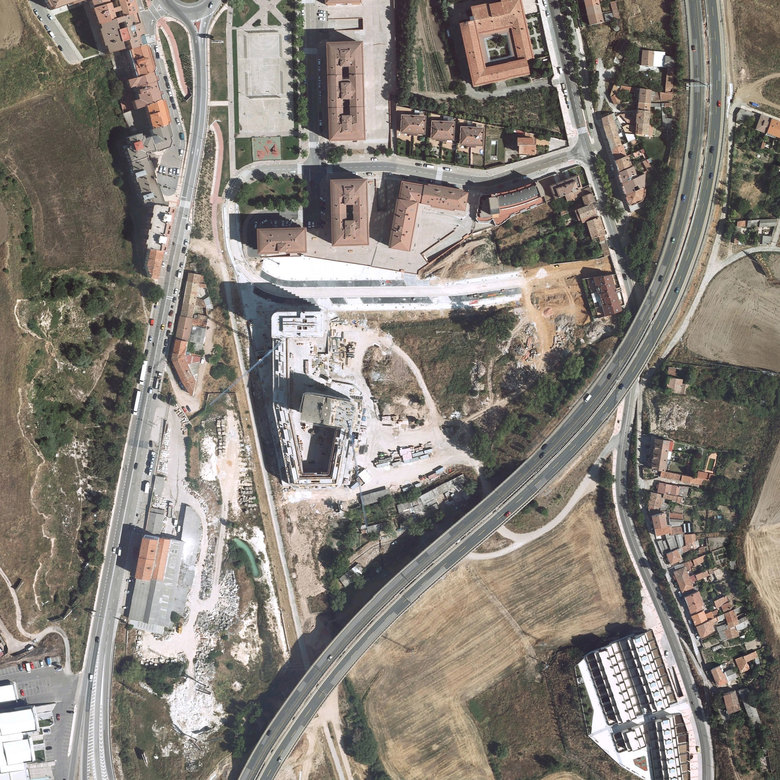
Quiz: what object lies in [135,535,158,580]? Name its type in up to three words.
building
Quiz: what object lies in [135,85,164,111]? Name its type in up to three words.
house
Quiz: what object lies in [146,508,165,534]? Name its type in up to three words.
shed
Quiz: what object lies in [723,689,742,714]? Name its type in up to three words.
house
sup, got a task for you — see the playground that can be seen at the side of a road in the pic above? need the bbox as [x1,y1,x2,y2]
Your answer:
[251,136,281,160]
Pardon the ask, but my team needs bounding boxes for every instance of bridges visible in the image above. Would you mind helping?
[238,0,726,780]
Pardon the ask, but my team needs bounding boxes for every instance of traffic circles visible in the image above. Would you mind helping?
[165,0,225,21]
